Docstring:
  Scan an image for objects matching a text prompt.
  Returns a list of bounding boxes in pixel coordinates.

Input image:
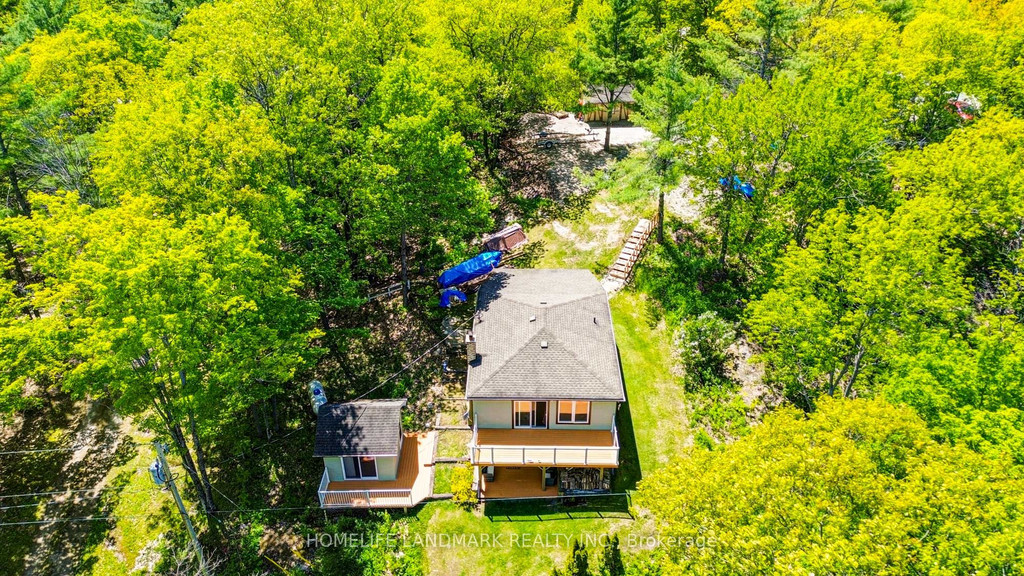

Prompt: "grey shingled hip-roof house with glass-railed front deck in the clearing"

[462,269,628,507]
